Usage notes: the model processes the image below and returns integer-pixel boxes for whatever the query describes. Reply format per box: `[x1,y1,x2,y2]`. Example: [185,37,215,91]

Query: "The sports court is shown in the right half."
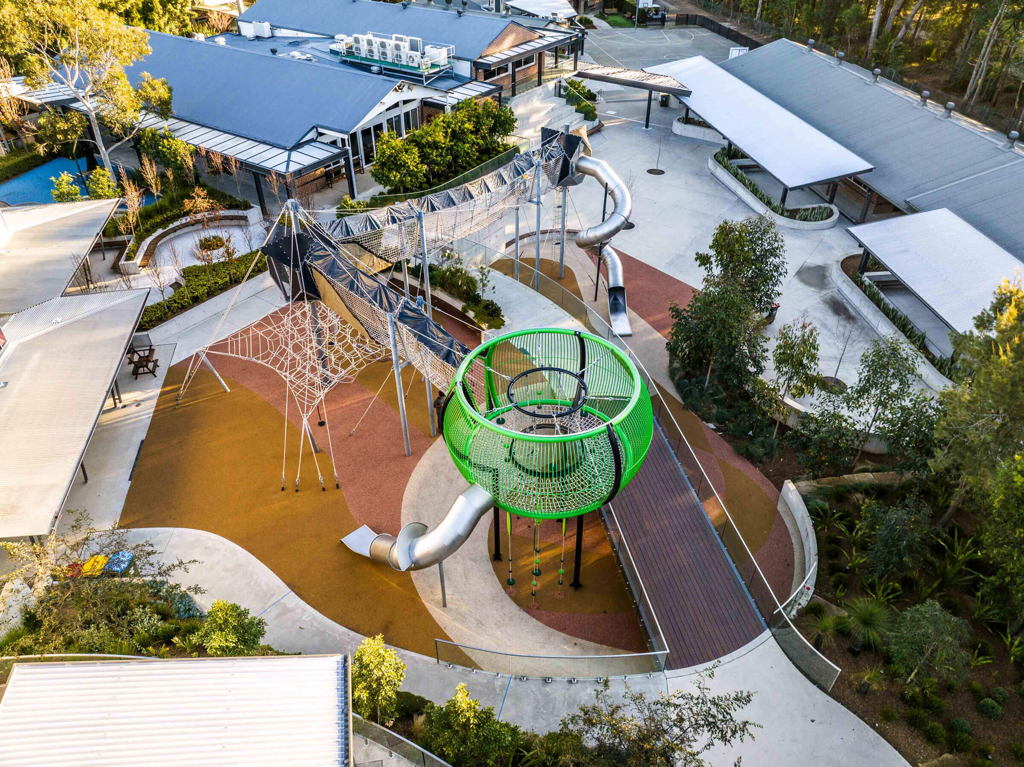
[582,27,753,99]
